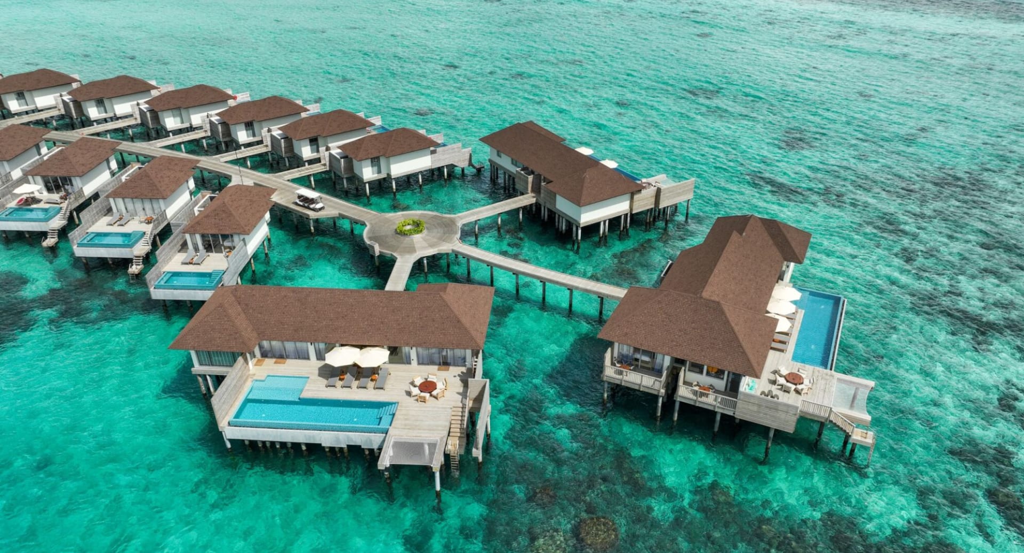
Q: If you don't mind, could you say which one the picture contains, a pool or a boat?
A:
pool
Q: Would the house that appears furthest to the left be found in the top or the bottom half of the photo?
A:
bottom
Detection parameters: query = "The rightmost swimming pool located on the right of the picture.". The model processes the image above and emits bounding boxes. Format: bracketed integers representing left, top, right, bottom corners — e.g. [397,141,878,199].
[789,286,841,370]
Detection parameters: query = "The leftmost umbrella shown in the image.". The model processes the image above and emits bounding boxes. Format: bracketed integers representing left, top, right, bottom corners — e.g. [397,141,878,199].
[16,182,43,204]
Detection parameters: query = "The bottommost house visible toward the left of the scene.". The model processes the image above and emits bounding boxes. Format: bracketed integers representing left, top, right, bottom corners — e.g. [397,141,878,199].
[168,284,495,504]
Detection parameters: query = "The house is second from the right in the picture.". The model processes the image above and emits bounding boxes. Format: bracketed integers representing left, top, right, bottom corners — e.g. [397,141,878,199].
[481,122,695,250]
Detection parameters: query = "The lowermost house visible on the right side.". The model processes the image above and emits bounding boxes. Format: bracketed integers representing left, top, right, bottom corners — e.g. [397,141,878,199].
[597,217,875,470]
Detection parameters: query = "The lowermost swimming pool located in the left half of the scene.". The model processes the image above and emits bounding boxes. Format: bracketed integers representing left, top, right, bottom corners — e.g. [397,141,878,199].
[228,376,398,436]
